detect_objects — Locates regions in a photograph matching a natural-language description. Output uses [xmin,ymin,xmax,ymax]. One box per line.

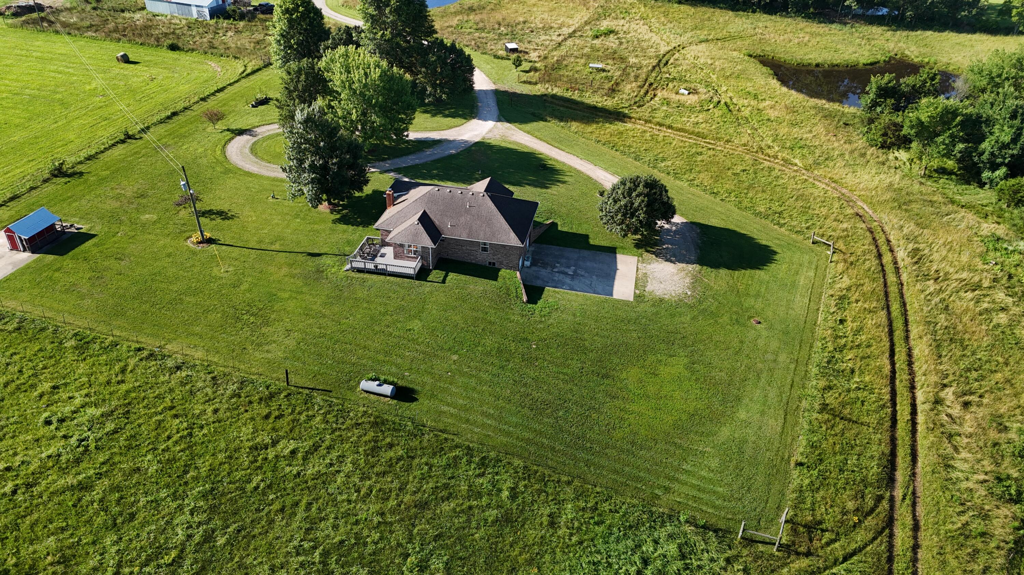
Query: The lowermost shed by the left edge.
[1,206,66,252]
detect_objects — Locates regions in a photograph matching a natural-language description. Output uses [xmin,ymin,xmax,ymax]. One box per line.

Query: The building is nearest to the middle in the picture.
[373,176,541,269]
